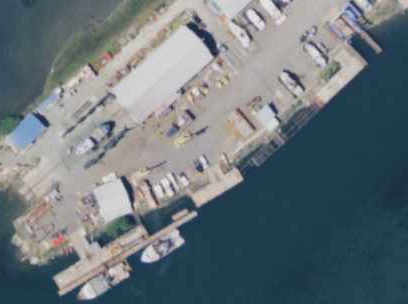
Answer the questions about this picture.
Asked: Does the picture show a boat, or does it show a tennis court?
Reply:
boat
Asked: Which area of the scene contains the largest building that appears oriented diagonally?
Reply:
top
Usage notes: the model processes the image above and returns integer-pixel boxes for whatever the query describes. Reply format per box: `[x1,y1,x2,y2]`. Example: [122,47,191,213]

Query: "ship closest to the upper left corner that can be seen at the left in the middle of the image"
[71,126,110,156]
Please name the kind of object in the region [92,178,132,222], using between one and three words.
building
